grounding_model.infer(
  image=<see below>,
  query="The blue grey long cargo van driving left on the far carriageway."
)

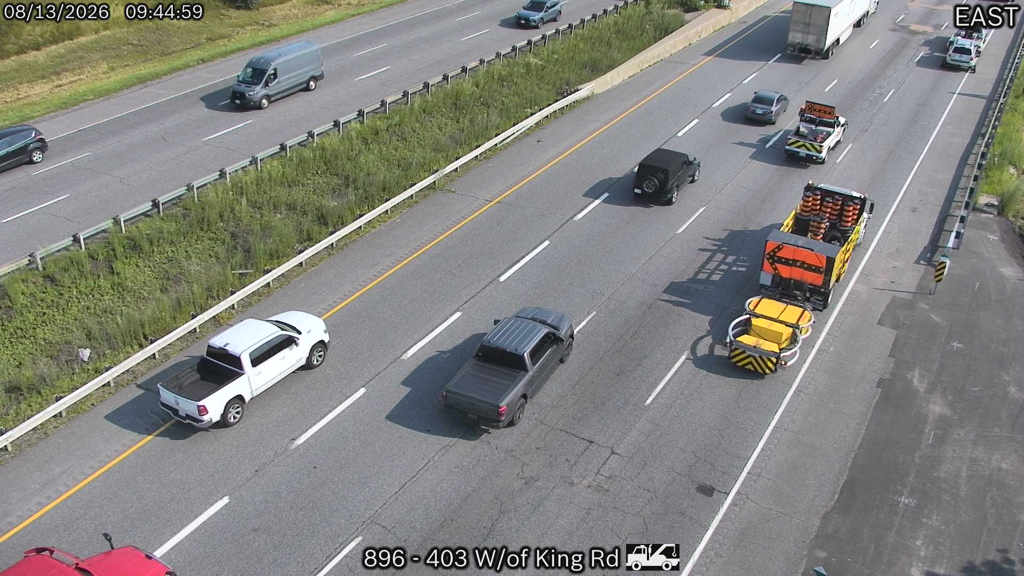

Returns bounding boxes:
[226,39,325,109]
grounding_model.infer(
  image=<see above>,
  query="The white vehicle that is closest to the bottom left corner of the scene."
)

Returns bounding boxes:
[159,311,332,431]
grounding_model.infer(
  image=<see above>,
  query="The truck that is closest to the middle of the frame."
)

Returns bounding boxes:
[446,308,577,431]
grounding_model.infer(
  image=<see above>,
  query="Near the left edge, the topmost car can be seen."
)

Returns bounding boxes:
[0,123,47,171]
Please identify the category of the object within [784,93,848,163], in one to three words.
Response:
truck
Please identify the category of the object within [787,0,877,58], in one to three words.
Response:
trailer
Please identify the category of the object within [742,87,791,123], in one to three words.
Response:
car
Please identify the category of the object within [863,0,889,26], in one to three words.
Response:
truck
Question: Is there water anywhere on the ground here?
No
